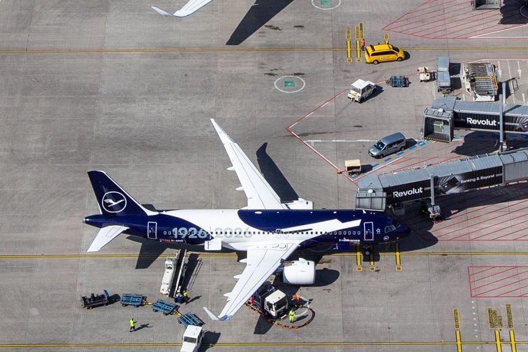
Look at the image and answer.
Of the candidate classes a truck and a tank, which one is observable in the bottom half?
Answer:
truck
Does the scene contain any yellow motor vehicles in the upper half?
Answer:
Yes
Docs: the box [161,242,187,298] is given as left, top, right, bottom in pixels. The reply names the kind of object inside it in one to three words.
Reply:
work vehicle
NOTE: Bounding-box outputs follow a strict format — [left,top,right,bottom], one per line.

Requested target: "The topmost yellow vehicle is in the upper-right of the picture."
[364,41,404,63]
